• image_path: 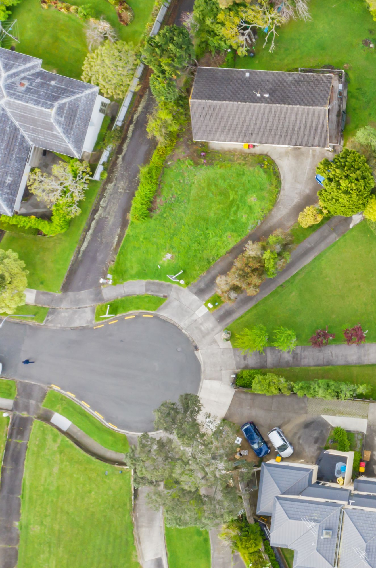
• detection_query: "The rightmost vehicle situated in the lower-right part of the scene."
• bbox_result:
[267,427,292,459]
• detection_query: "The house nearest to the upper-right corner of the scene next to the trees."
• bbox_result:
[190,66,352,152]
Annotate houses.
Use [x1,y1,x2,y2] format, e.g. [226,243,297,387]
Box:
[0,46,111,217]
[190,66,352,152]
[256,448,355,568]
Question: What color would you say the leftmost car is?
blue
